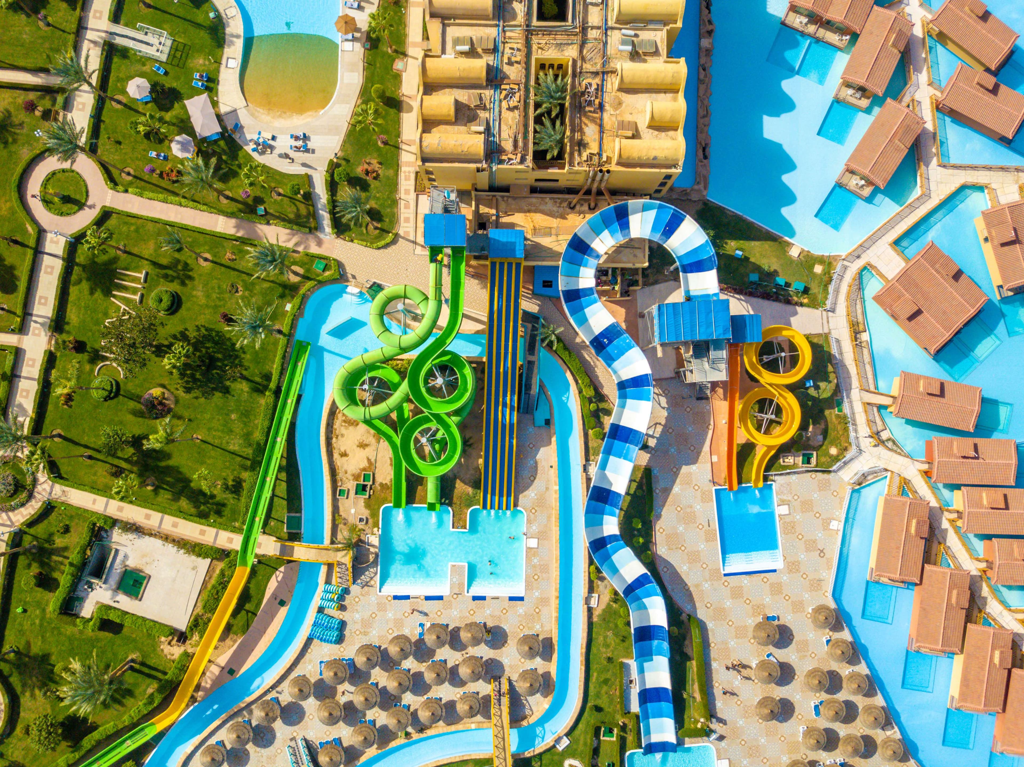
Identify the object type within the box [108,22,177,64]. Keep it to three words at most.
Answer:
building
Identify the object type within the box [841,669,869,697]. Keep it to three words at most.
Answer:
umbrella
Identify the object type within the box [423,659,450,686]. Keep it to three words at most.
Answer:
umbrella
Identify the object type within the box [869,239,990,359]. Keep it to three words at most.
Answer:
house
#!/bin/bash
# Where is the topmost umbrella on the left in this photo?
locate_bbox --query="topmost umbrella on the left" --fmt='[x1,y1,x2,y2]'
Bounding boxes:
[335,13,357,36]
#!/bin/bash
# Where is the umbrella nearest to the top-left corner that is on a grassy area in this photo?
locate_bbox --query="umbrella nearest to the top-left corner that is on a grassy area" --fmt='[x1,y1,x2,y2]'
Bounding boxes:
[126,76,153,100]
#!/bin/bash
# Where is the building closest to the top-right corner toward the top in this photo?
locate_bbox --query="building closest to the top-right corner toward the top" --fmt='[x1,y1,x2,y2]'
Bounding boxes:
[925,0,1021,75]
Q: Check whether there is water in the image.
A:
Yes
